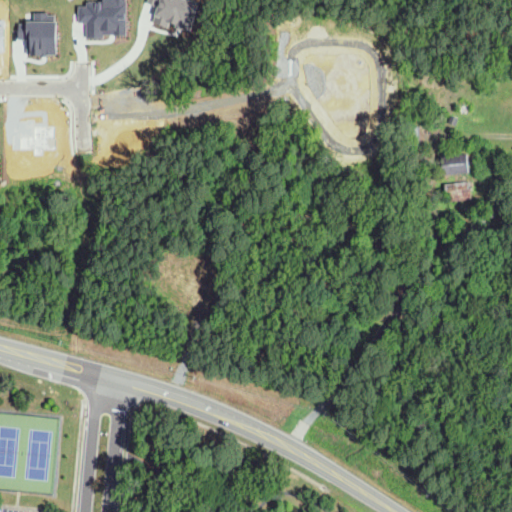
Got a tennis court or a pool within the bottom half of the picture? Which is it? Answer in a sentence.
The one visible within the bottom half of the picture is a tennis court.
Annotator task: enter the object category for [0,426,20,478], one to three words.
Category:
tennis court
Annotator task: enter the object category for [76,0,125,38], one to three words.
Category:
house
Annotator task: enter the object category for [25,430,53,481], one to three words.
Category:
tennis court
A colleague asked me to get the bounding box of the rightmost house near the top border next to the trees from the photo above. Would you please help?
[150,0,186,30]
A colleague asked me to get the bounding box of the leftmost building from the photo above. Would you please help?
[16,12,56,56]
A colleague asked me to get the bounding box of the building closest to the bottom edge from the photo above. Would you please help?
[446,182,472,201]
